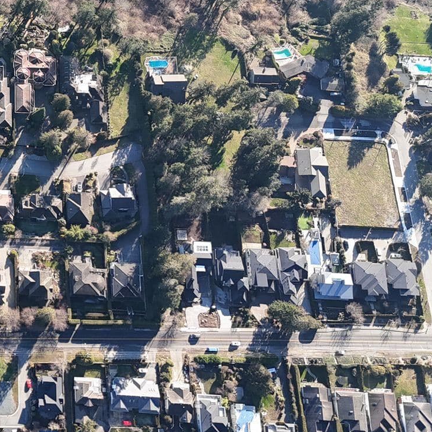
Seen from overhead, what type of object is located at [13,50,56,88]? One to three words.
house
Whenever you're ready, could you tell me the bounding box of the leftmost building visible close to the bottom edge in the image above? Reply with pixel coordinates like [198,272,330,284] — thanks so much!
[38,378,65,413]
